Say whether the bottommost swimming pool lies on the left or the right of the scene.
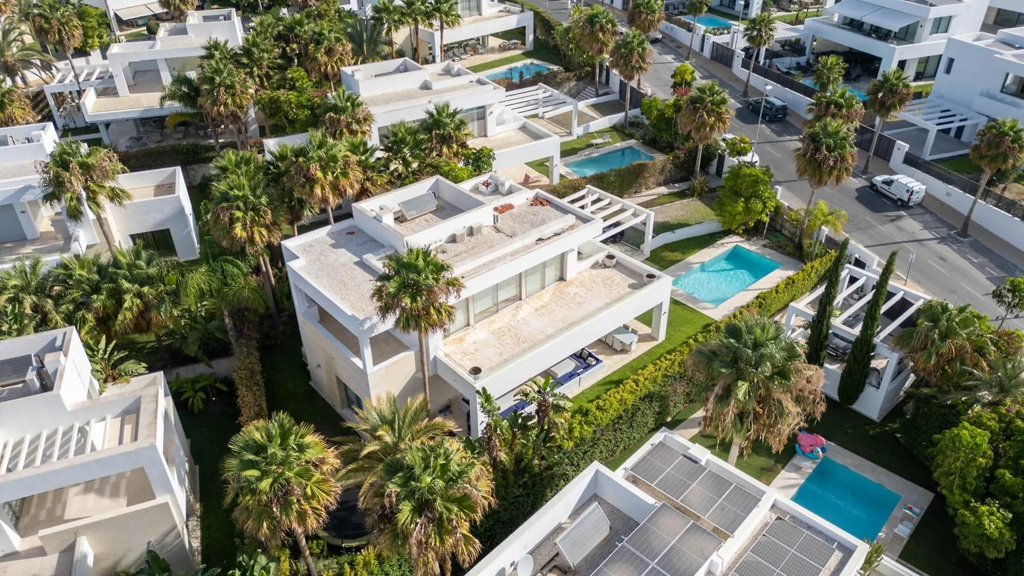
right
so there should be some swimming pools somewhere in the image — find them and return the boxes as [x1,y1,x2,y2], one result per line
[557,140,648,179]
[473,58,572,82]
[673,11,742,29]
[772,434,936,553]
[661,233,806,317]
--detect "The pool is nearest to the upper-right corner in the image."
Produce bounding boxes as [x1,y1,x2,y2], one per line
[785,71,867,105]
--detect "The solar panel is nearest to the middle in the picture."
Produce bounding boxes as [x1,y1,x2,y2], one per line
[398,188,441,221]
